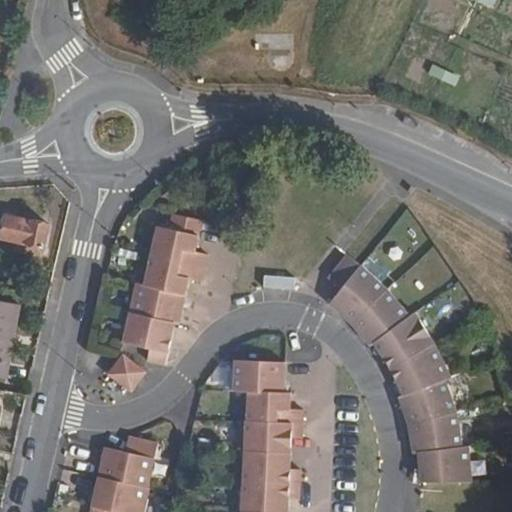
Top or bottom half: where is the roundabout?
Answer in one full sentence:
It is in the top half that the roundabout appears.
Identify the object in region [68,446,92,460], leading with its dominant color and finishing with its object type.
white vehicle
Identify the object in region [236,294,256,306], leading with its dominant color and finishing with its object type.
white vehicle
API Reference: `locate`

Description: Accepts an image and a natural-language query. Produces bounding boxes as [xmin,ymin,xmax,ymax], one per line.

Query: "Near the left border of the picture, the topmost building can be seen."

[0,212,49,254]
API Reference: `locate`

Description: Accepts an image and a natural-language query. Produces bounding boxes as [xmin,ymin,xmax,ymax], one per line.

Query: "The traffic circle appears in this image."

[0,0,210,260]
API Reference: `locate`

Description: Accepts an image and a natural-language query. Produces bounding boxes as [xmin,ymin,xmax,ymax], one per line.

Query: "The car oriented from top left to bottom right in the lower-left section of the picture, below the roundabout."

[104,432,124,448]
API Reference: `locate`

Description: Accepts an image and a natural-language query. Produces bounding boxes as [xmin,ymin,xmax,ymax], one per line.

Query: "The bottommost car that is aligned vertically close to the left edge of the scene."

[12,477,25,504]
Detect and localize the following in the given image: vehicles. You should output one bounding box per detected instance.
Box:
[335,446,356,456]
[12,477,25,504]
[334,503,356,512]
[70,0,80,20]
[64,256,76,280]
[236,294,256,306]
[336,434,358,444]
[68,446,92,460]
[289,331,301,352]
[287,364,310,374]
[336,424,358,434]
[334,468,358,478]
[334,456,357,466]
[300,482,310,506]
[292,438,310,448]
[334,396,359,408]
[336,481,357,491]
[35,392,46,416]
[336,411,358,422]
[104,432,124,448]
[74,461,96,472]
[334,492,356,502]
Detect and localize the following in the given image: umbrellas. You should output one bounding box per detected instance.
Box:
[389,246,403,260]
